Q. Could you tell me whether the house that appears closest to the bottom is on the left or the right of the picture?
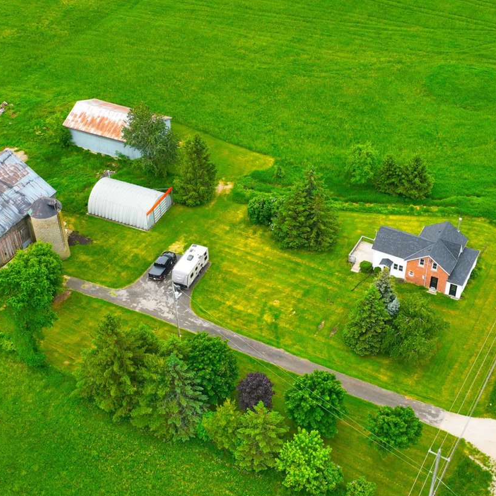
right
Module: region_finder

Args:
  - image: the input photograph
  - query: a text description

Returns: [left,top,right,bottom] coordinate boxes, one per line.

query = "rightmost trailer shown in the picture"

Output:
[172,243,209,290]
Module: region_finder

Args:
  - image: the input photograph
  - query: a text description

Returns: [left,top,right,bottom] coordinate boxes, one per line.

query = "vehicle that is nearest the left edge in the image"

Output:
[149,252,179,279]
